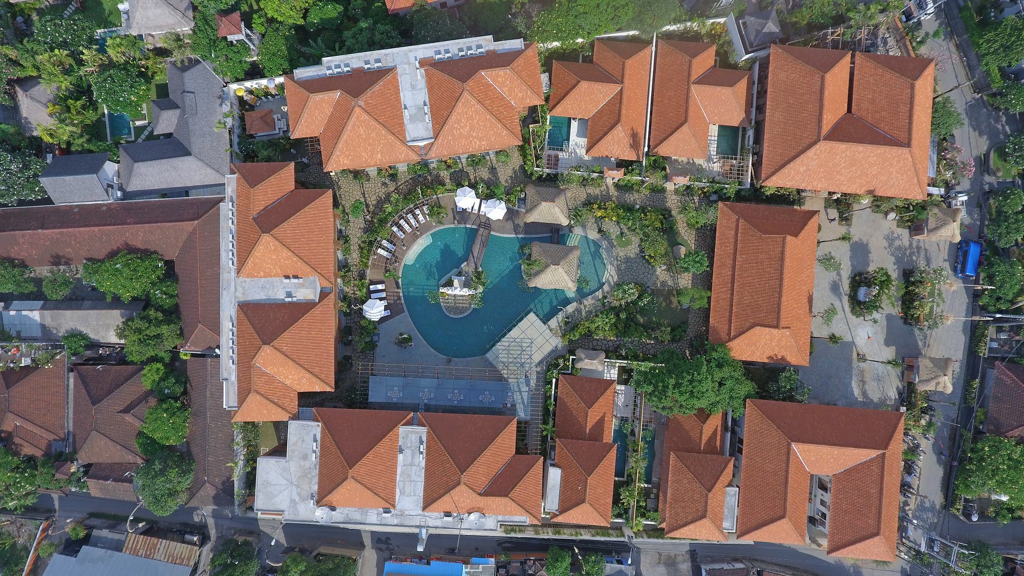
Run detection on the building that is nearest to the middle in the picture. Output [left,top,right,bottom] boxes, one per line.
[525,239,582,293]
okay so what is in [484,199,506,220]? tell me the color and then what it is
white umbrella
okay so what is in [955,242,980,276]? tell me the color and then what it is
blue vehicle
